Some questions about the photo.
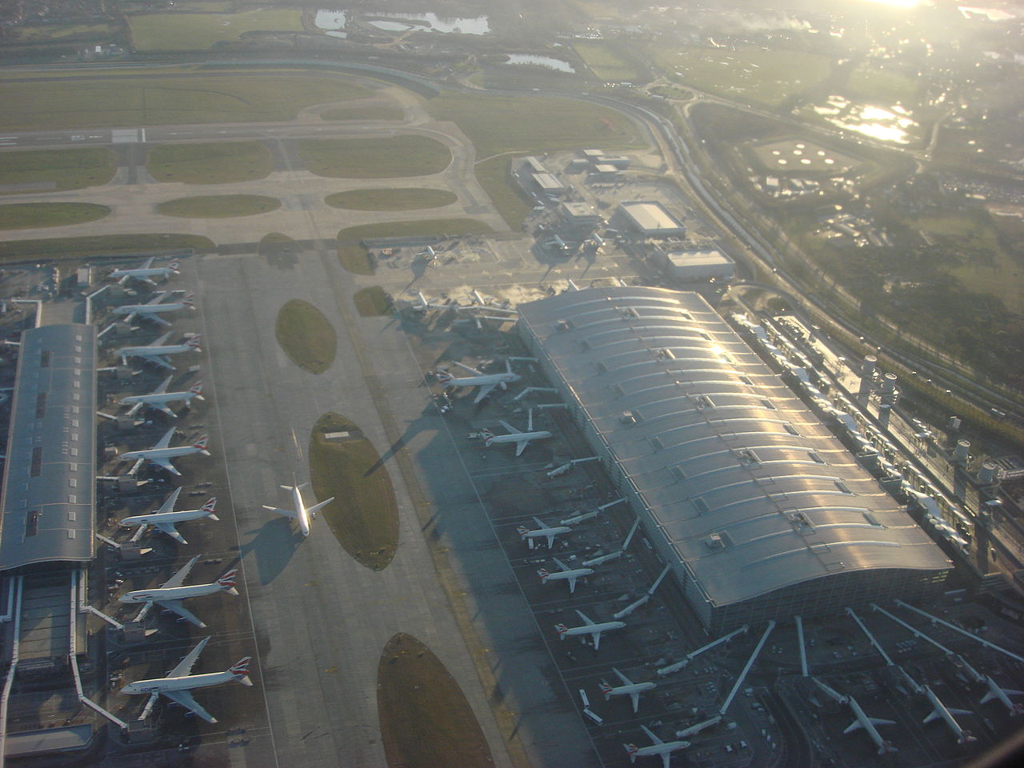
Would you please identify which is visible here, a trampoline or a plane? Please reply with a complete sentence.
There is a plane in the scene.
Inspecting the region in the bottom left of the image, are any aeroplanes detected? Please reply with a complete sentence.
Yes, an aeroplane appears in the bottom left of the image.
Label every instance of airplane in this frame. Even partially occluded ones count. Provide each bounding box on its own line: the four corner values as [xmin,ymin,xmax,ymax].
[444,361,520,400]
[519,518,570,549]
[922,689,978,746]
[555,612,624,651]
[121,486,222,542]
[984,679,1024,726]
[545,230,576,252]
[262,477,331,537]
[121,634,251,718]
[116,329,198,366]
[843,699,899,757]
[406,292,442,311]
[120,552,239,621]
[597,670,655,713]
[540,559,593,593]
[623,728,689,768]
[465,291,498,307]
[560,279,586,292]
[119,374,206,415]
[114,290,191,323]
[111,260,173,283]
[118,426,211,474]
[481,421,552,456]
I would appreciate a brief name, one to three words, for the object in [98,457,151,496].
jet bridge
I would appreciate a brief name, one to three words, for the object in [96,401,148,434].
jet bridge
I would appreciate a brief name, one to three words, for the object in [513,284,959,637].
building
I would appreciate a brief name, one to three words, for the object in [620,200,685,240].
hangar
